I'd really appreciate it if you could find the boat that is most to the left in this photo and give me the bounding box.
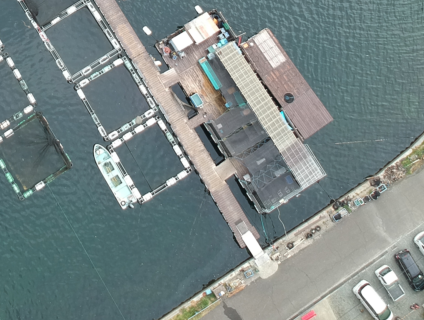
[96,144,136,209]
